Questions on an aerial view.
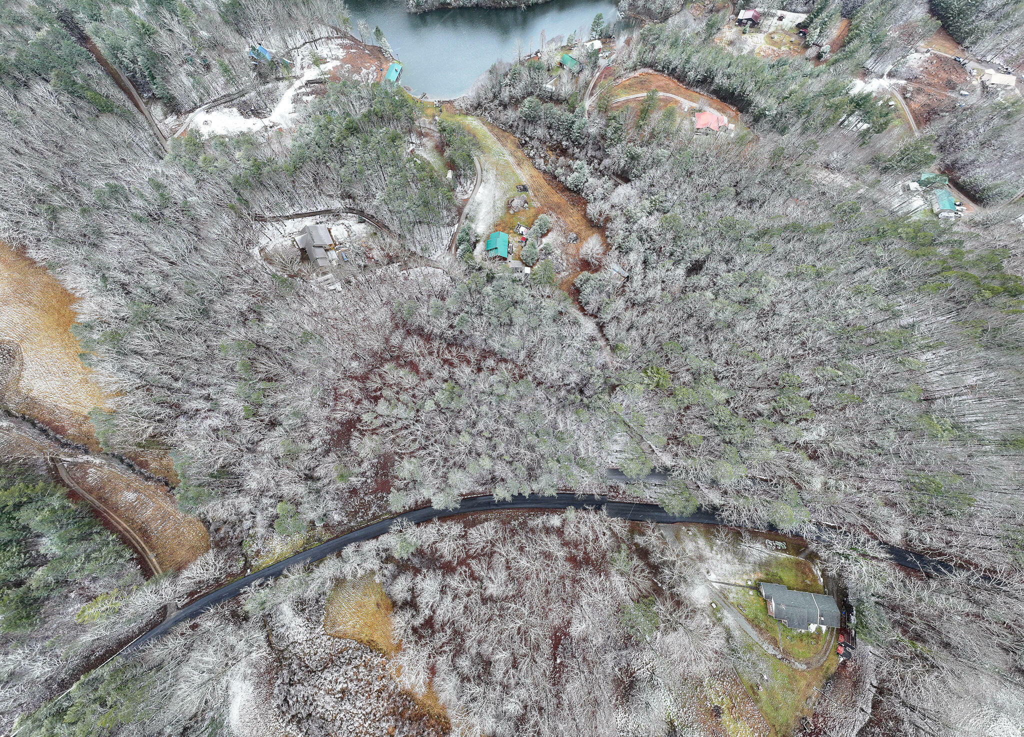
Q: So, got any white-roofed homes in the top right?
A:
Yes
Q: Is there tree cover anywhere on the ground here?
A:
Yes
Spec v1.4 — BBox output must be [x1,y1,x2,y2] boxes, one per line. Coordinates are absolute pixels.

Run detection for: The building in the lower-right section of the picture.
[754,581,842,634]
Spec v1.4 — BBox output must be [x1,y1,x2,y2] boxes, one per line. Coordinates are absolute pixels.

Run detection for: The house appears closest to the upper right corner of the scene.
[977,69,1018,92]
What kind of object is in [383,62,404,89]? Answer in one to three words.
building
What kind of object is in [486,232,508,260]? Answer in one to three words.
house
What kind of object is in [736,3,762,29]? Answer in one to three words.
house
